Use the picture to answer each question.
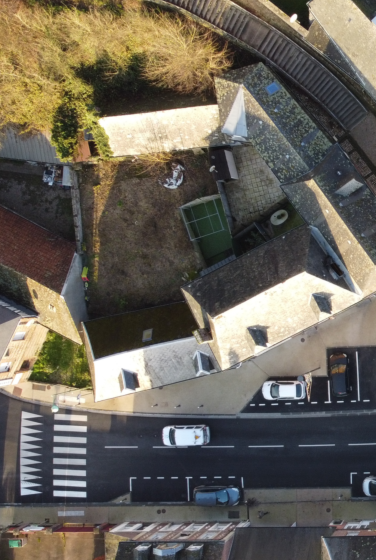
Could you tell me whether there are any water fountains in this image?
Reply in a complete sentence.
No, I can see no water fountain in this picture.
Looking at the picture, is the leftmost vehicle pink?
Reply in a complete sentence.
No, the leftmost vehicle is white.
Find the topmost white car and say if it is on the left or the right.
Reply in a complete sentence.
It is on the right.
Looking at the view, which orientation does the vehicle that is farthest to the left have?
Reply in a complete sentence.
The vehicle that is farthest to the left has been laid out from left to right relative to the frame.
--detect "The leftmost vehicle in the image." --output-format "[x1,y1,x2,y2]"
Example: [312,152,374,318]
[163,424,214,447]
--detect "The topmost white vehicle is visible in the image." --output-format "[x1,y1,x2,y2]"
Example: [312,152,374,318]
[262,380,307,402]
